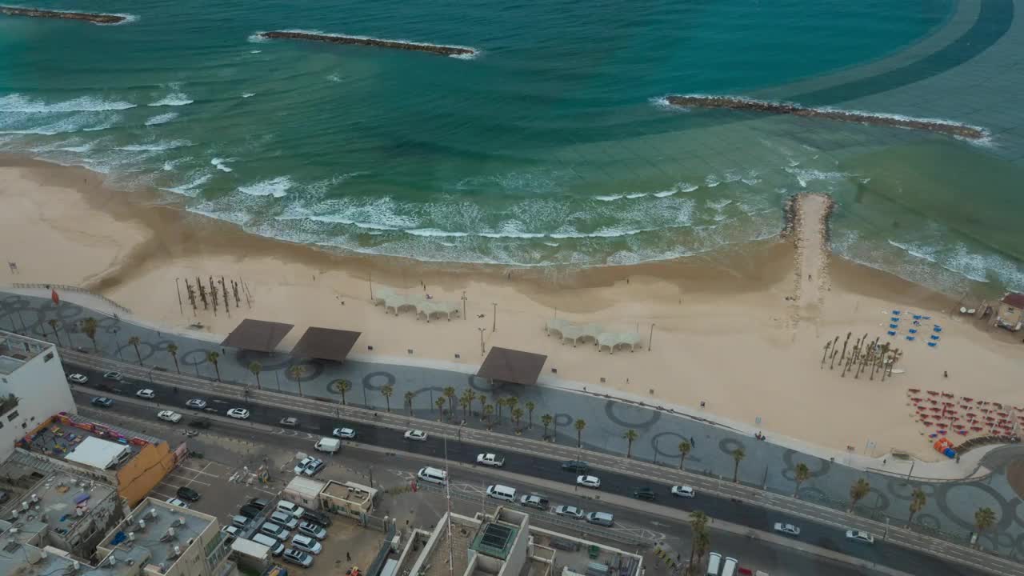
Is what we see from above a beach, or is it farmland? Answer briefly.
beach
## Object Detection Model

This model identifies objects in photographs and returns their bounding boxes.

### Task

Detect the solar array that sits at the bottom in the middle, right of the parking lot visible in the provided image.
[482,526,514,553]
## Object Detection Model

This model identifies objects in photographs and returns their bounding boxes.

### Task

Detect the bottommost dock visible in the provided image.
[779,190,838,349]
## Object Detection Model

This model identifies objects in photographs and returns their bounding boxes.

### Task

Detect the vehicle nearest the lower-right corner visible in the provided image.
[847,530,874,545]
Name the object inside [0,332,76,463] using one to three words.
building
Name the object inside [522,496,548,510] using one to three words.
vehicle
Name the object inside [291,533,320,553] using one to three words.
car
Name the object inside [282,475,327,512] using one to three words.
shed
